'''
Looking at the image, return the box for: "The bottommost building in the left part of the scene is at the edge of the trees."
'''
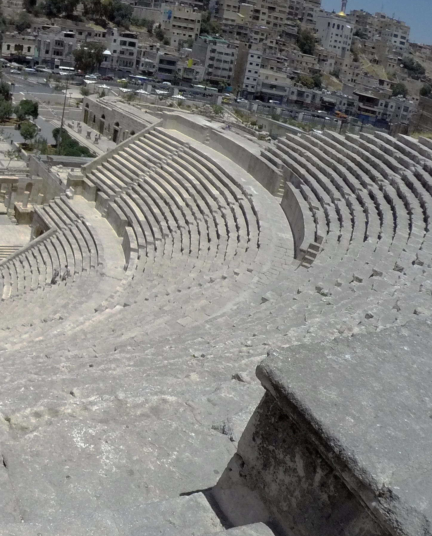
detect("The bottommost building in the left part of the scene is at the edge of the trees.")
[85,98,174,144]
